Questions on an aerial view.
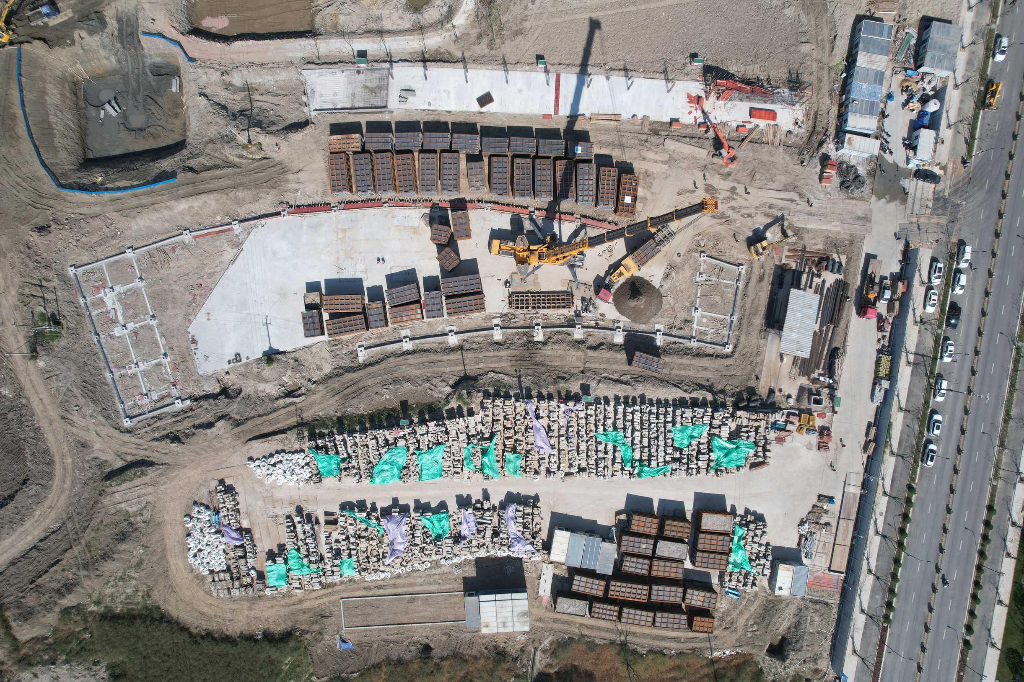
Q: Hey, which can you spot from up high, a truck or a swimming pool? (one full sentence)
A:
Of the two, only a truck appears.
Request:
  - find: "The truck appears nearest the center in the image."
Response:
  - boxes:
[595,226,676,304]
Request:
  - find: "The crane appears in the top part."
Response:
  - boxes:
[490,196,719,291]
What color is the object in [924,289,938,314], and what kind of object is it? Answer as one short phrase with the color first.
white car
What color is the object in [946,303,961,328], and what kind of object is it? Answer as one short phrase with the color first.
black car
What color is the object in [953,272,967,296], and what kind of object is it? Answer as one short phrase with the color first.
white car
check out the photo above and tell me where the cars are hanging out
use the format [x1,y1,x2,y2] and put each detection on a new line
[928,413,943,438]
[941,339,955,364]
[924,289,938,314]
[930,260,944,285]
[915,170,940,183]
[922,443,937,467]
[993,36,1008,62]
[957,244,972,269]
[946,303,961,328]
[953,272,967,296]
